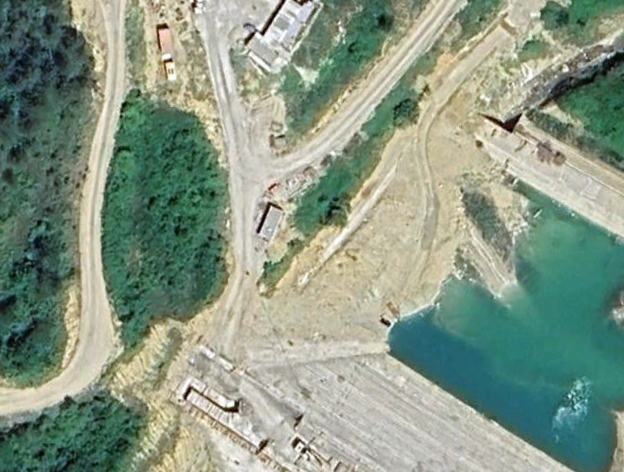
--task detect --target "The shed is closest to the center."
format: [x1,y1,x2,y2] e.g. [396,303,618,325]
[259,205,280,238]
